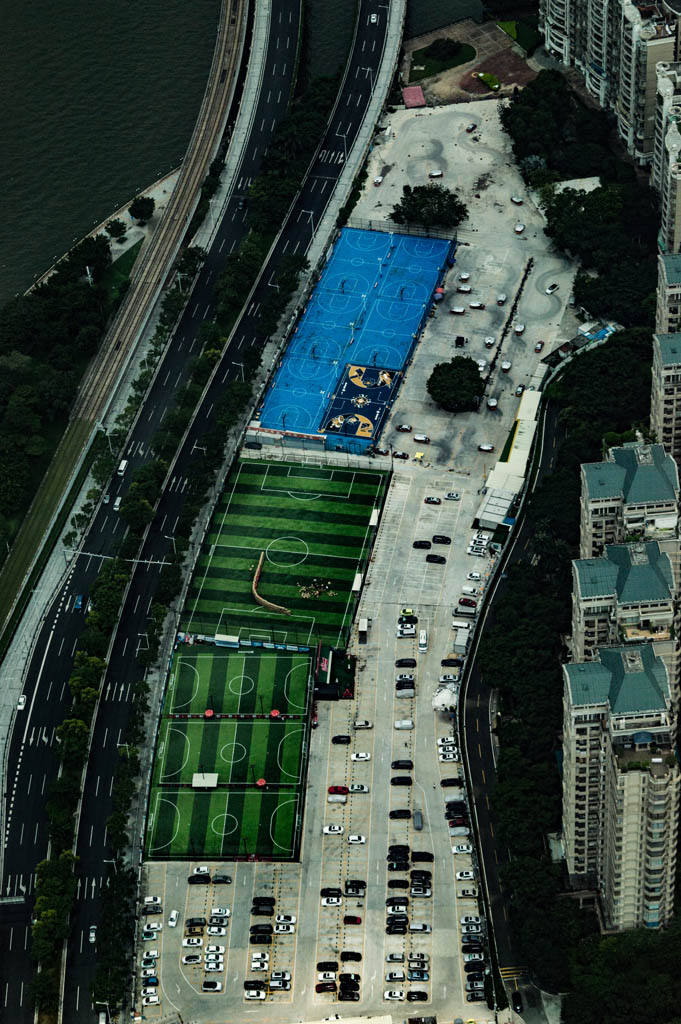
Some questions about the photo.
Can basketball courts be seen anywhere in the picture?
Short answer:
Yes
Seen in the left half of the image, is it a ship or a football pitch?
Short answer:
football pitch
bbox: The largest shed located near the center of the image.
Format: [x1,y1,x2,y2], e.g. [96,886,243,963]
[244,429,327,453]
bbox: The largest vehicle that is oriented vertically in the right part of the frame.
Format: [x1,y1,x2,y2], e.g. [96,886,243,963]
[454,629,467,655]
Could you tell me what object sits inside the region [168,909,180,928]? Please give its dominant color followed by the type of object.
white vehicle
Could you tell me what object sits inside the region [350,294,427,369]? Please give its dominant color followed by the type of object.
blue basketball court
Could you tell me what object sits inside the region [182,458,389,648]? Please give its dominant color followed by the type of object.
green soccer field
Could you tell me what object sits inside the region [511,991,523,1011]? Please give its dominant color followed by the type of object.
black vehicle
